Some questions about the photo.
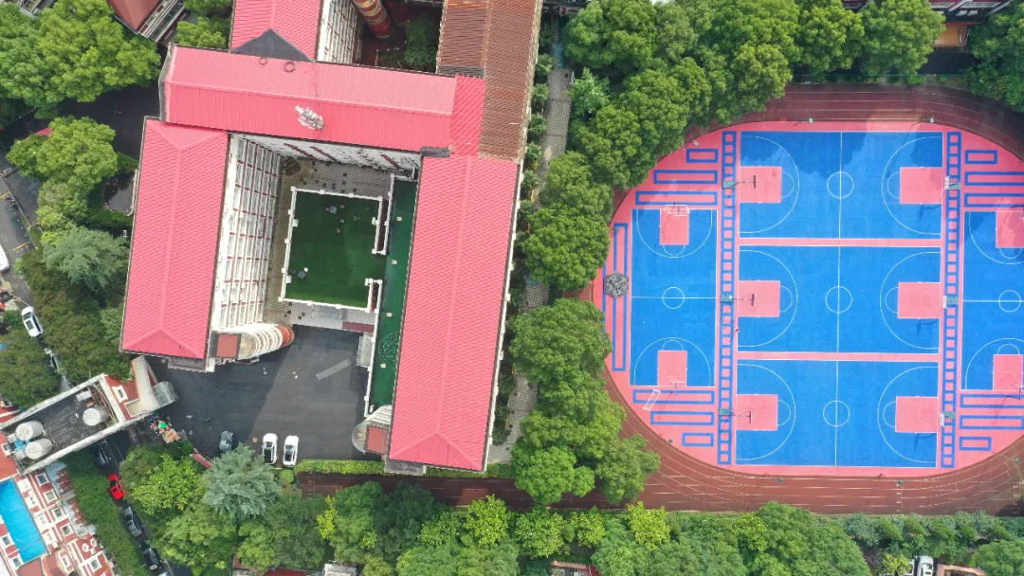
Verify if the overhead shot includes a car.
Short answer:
Yes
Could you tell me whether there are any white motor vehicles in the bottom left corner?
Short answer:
Yes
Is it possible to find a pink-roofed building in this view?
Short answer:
Yes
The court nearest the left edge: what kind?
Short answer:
basketball court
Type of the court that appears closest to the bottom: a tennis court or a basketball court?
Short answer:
basketball court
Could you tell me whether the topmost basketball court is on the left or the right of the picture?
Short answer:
right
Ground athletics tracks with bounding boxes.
[300,77,1024,518]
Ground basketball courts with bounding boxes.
[736,359,940,468]
[737,246,941,354]
[960,211,1024,391]
[739,131,943,239]
[630,208,718,387]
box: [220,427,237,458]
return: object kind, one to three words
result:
car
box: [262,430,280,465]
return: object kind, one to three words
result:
car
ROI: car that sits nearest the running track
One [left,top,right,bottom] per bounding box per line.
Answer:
[283,433,300,467]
